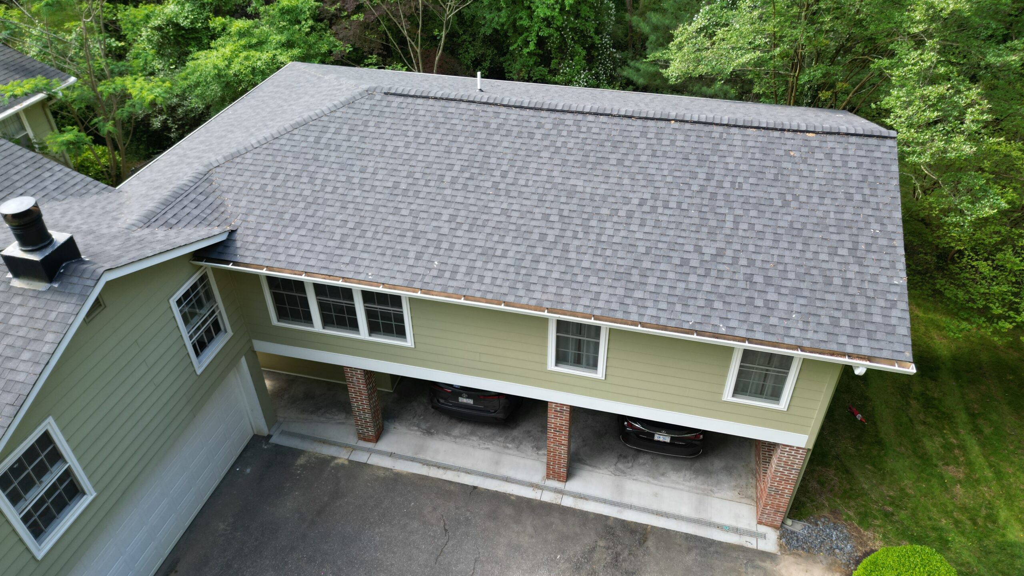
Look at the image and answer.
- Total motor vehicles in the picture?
2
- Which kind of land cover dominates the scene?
buildings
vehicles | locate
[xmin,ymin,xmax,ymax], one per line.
[618,416,708,458]
[431,382,521,422]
